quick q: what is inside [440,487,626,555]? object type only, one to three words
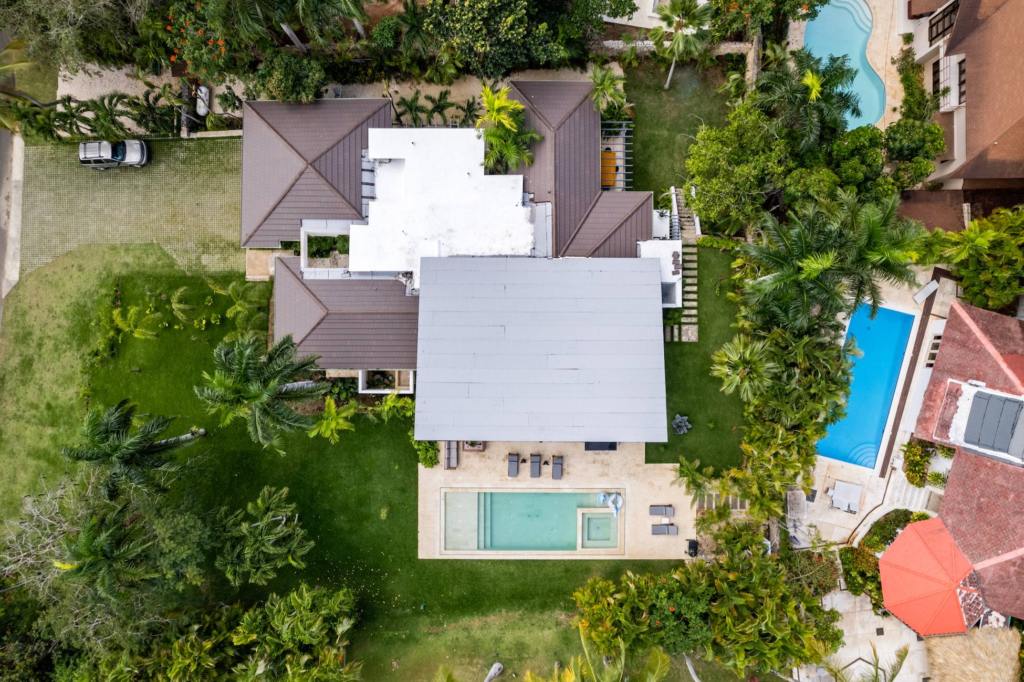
swimming pool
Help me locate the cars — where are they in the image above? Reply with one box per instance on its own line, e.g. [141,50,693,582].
[78,136,150,171]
